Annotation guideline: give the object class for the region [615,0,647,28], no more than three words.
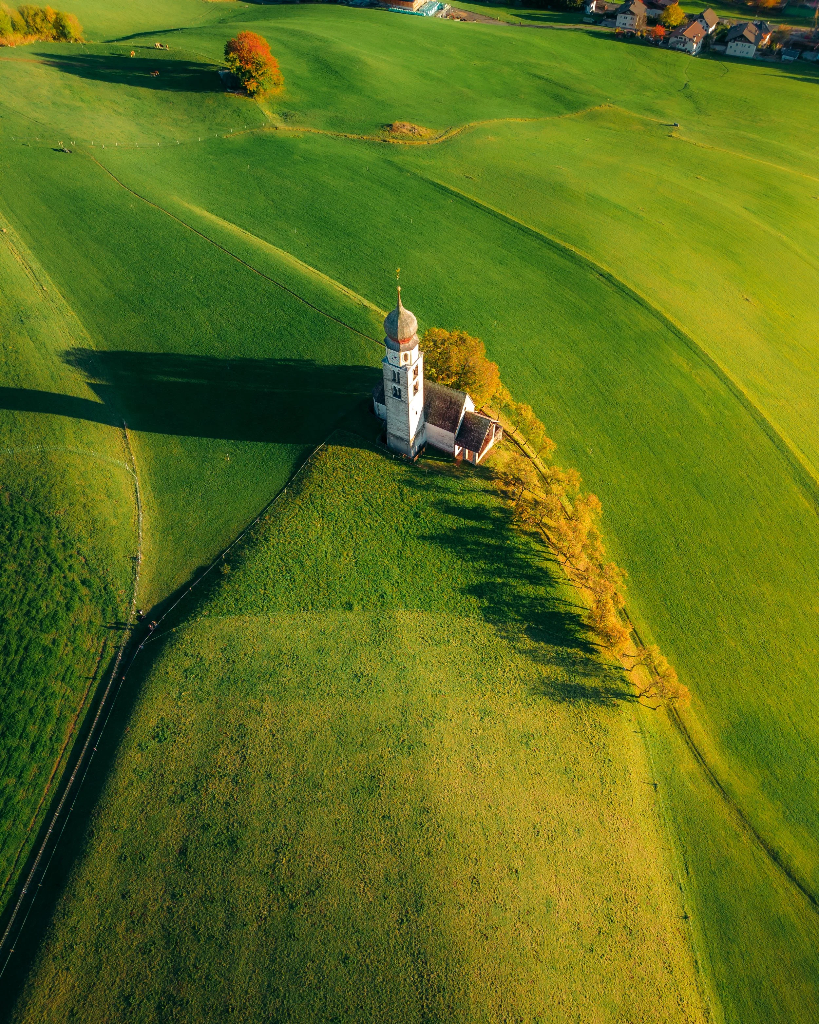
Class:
house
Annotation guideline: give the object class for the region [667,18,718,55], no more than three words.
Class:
house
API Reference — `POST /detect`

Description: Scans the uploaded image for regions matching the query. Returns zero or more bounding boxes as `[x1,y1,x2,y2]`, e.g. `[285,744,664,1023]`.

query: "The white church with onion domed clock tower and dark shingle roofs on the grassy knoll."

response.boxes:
[367,268,504,464]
